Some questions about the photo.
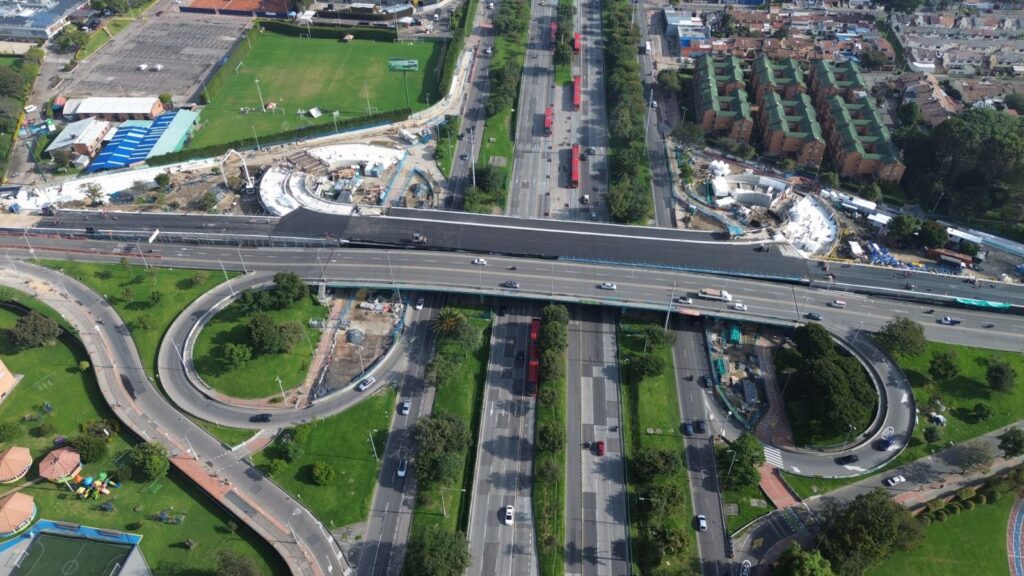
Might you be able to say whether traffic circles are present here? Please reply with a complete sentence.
No, no traffic circle is visible in the scene.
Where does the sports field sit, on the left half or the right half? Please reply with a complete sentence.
You can find the sports field on the left side of the picture.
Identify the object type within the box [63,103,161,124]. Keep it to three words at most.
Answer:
building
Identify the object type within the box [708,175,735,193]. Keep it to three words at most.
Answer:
tent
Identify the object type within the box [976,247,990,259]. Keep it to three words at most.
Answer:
vehicle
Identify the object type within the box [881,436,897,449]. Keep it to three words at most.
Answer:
vehicle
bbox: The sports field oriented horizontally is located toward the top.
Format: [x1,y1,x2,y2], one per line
[183,33,446,148]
